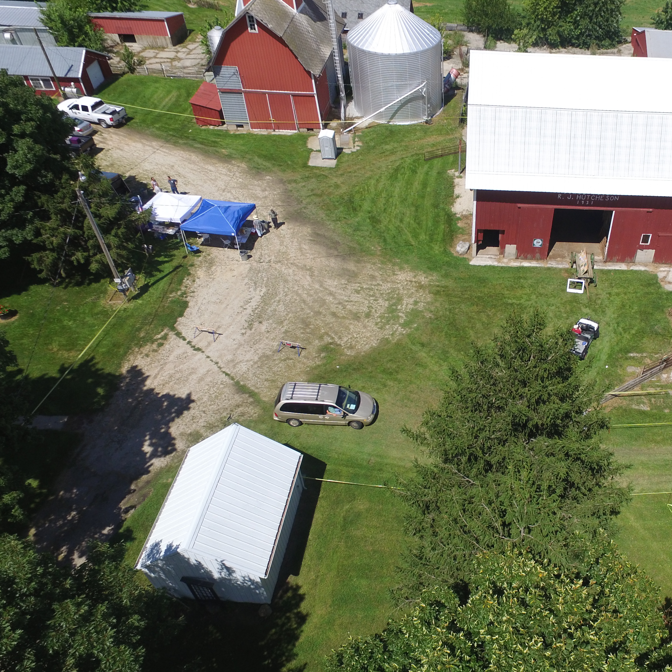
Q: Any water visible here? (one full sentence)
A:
No, the picture contains no water.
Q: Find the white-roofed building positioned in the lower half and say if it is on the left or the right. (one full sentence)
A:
The white-roofed building positioned in the lower half appears in the left half of the scene.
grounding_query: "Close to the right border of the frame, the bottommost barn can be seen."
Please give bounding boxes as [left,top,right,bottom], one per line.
[466,50,672,263]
